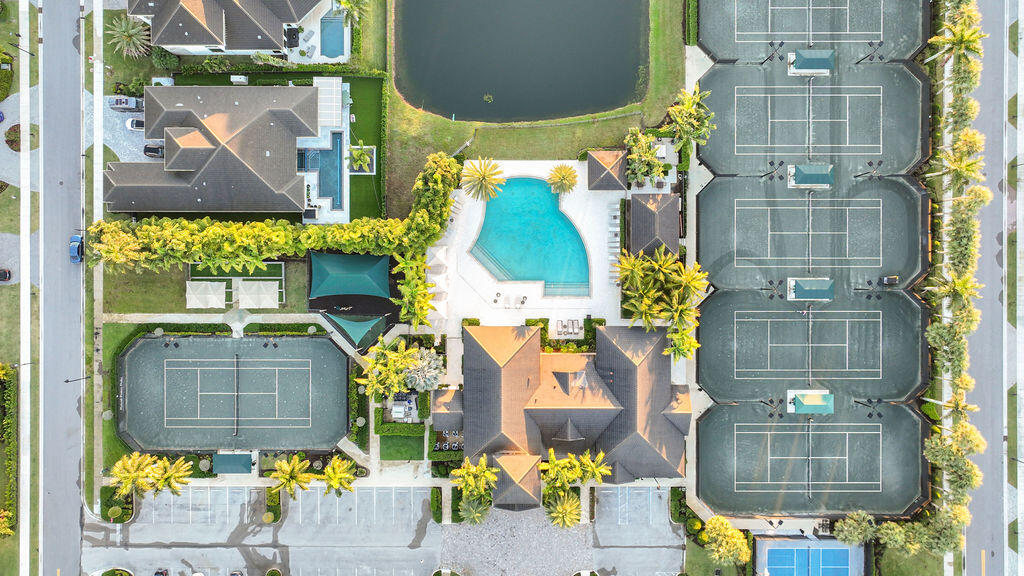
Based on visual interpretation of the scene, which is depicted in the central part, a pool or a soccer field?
pool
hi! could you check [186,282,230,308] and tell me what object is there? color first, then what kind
white tent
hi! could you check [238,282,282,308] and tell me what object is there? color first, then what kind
white tent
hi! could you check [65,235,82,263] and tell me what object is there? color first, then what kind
blue car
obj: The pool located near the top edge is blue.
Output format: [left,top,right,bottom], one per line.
[320,18,345,59]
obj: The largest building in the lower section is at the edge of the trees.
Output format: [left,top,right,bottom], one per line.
[431,326,695,512]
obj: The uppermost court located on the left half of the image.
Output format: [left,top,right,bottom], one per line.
[126,337,345,449]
